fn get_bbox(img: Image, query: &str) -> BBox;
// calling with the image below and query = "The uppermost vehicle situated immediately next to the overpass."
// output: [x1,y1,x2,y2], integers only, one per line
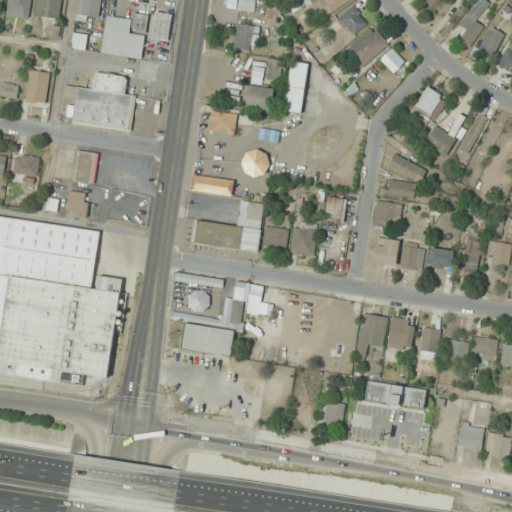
[124,430,165,444]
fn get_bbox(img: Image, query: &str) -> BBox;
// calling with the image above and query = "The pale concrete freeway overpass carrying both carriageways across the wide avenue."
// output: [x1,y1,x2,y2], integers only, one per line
[68,456,182,512]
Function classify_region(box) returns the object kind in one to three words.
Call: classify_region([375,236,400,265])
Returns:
house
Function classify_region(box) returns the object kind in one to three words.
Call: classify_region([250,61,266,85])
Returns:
shed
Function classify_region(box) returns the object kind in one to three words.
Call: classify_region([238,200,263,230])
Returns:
building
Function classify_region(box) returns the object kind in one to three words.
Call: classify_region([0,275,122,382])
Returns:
building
